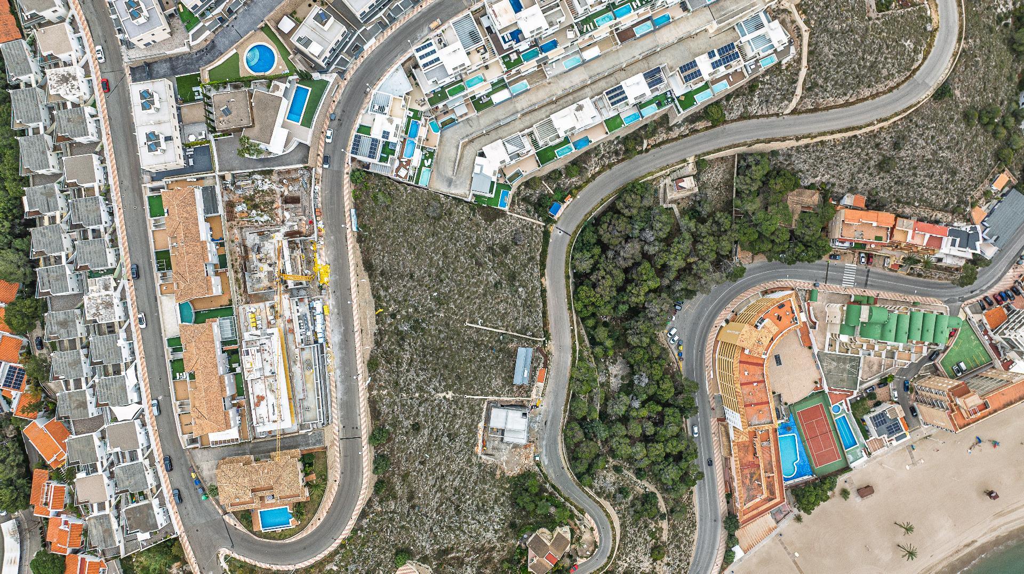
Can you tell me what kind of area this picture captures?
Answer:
residential area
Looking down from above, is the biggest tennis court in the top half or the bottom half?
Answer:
bottom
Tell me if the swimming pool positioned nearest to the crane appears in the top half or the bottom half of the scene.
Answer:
bottom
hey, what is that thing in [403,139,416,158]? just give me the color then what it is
blue swimming pool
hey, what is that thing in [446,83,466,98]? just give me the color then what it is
green swimming pool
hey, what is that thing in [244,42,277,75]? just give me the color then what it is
blue swimming pool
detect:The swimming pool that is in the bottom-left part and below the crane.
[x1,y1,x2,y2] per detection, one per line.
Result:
[264,506,295,532]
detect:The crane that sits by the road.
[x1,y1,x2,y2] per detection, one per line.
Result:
[272,241,320,463]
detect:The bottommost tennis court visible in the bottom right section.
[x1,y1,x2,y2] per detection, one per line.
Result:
[789,394,852,479]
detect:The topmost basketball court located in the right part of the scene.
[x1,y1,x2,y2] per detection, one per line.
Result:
[818,351,863,390]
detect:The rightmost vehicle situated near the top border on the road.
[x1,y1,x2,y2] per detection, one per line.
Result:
[426,15,444,30]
